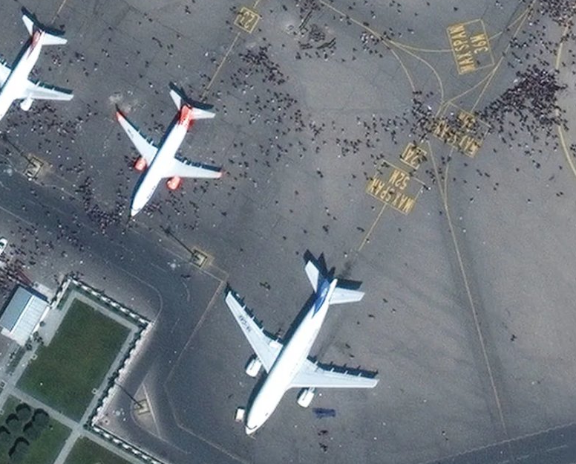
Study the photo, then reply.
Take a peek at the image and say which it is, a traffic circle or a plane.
plane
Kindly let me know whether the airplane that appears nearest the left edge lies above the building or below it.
above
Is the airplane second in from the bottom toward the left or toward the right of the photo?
left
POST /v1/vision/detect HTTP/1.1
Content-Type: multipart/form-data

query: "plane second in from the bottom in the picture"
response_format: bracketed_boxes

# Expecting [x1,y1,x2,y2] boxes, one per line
[115,87,220,217]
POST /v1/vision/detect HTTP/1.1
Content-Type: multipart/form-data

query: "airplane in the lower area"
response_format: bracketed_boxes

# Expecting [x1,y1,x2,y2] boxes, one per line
[227,261,377,435]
